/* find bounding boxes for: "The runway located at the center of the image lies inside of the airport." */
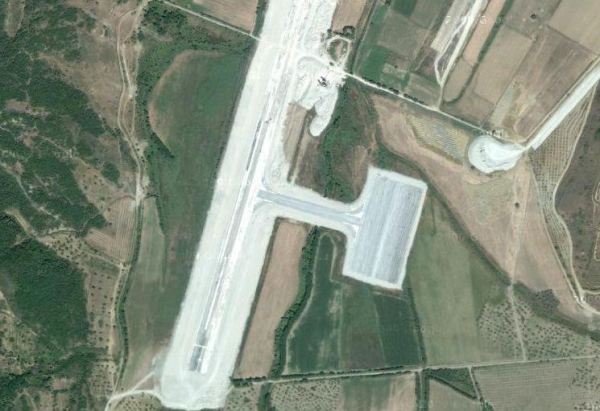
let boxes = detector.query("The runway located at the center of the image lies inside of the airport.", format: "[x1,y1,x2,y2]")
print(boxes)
[190,0,296,371]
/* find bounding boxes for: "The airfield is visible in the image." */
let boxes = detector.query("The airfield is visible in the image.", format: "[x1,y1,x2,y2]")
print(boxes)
[160,0,428,410]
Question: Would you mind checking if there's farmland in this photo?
Yes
